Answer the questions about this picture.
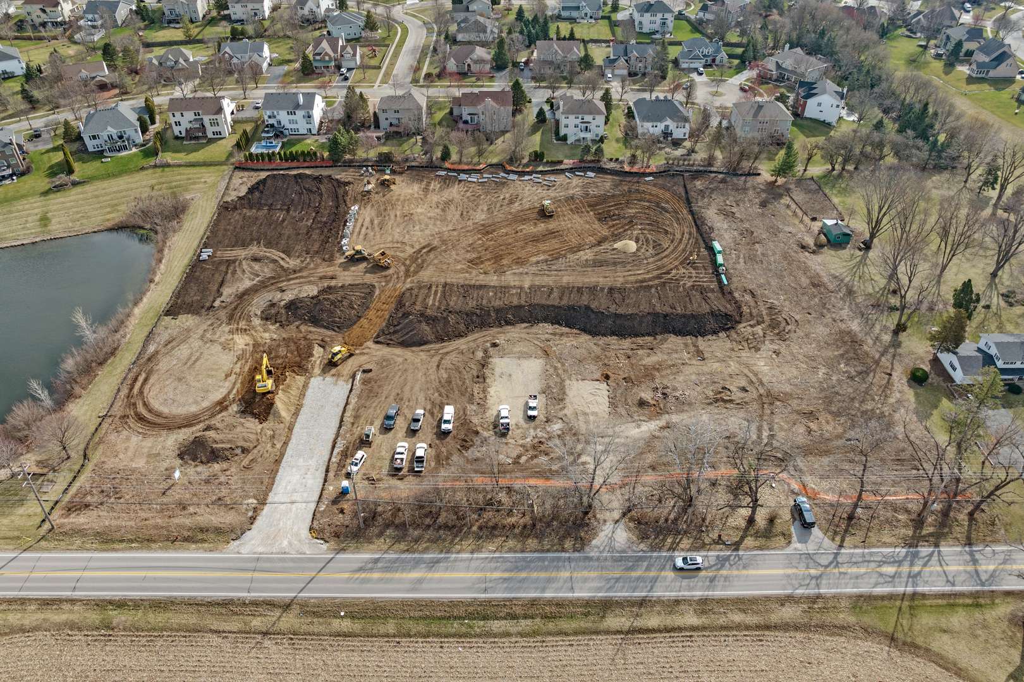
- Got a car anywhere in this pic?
Yes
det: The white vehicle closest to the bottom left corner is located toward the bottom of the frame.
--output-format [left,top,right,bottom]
[346,450,366,474]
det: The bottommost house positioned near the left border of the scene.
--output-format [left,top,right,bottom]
[0,130,55,184]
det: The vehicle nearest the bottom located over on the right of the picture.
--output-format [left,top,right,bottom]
[673,553,704,569]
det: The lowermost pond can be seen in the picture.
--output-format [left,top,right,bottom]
[0,227,156,418]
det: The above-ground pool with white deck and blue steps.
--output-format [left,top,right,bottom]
[248,137,283,154]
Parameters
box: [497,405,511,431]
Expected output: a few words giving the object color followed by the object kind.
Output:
white vehicle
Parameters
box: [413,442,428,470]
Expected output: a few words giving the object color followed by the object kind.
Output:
white vehicle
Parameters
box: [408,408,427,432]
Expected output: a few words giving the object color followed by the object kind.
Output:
gray vehicle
